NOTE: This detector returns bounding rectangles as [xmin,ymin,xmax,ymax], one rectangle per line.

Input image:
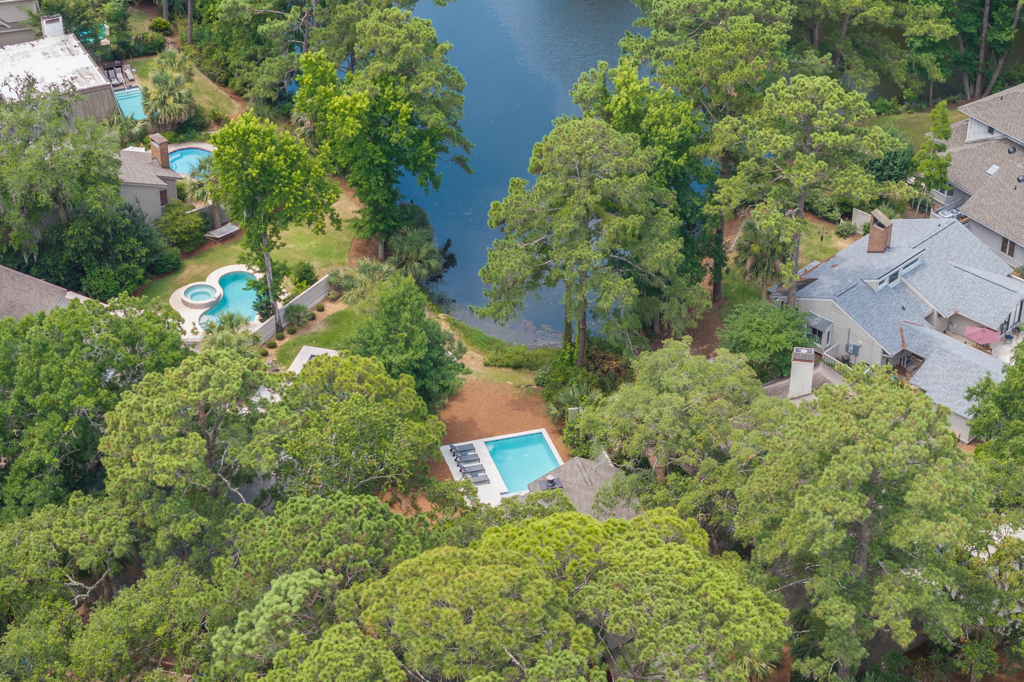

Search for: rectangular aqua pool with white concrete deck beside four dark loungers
[484,432,560,490]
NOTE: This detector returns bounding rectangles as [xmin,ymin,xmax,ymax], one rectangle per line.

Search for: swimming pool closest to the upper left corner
[115,74,155,118]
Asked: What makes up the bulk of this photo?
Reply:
trees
